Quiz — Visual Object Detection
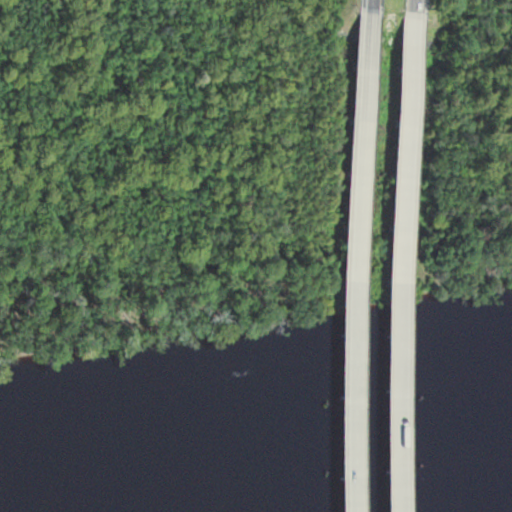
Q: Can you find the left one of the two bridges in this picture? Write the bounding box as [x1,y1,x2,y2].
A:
[341,12,381,512]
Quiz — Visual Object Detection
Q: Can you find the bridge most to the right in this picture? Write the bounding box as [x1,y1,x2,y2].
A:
[386,12,427,512]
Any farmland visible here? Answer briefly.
No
